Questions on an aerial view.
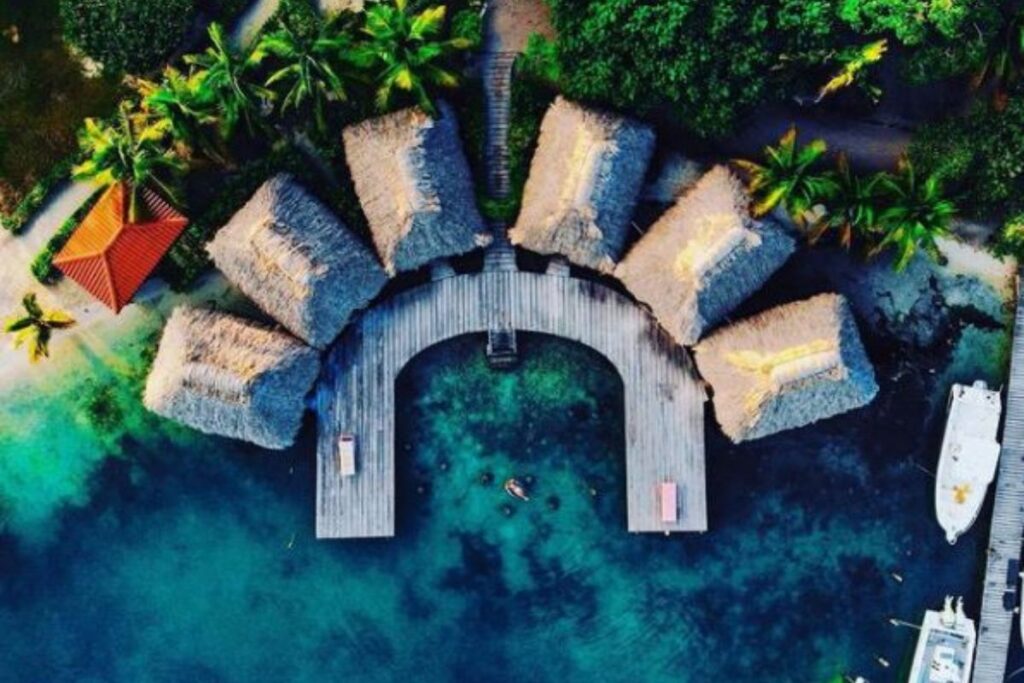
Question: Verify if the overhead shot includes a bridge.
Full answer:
Yes, the image includes a bridge.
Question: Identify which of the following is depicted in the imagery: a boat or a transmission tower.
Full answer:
Of the two, only a boat appears.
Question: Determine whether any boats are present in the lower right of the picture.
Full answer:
Yes, I can see a boat in the lower right of the picture.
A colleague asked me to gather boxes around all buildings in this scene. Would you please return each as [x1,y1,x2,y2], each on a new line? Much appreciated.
[509,97,657,275]
[343,100,492,276]
[208,176,389,346]
[617,167,794,343]
[695,293,878,442]
[51,183,189,313]
[145,307,320,449]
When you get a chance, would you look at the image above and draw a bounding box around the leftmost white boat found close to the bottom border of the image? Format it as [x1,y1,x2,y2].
[904,594,973,683]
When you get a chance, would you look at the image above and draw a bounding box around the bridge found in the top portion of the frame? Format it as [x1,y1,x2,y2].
[482,216,518,271]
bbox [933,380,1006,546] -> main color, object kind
white boat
